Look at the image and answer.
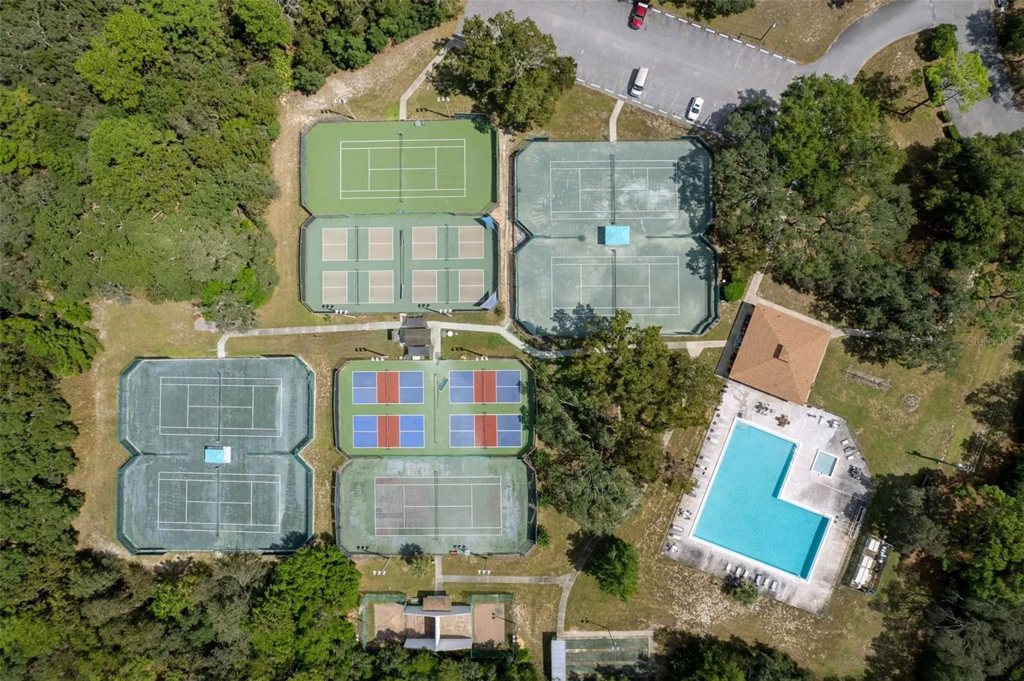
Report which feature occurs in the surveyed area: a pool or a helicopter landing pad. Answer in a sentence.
It is a pool that can be seen here.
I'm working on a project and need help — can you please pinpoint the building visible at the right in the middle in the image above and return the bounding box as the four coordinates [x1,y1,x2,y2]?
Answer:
[726,304,831,405]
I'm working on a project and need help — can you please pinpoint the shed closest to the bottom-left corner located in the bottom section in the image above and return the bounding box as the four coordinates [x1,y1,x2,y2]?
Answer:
[423,593,452,610]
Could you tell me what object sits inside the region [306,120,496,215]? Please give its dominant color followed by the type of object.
green tennis court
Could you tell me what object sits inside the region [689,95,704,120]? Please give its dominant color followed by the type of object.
white car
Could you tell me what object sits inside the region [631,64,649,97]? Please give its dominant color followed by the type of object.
white vehicle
